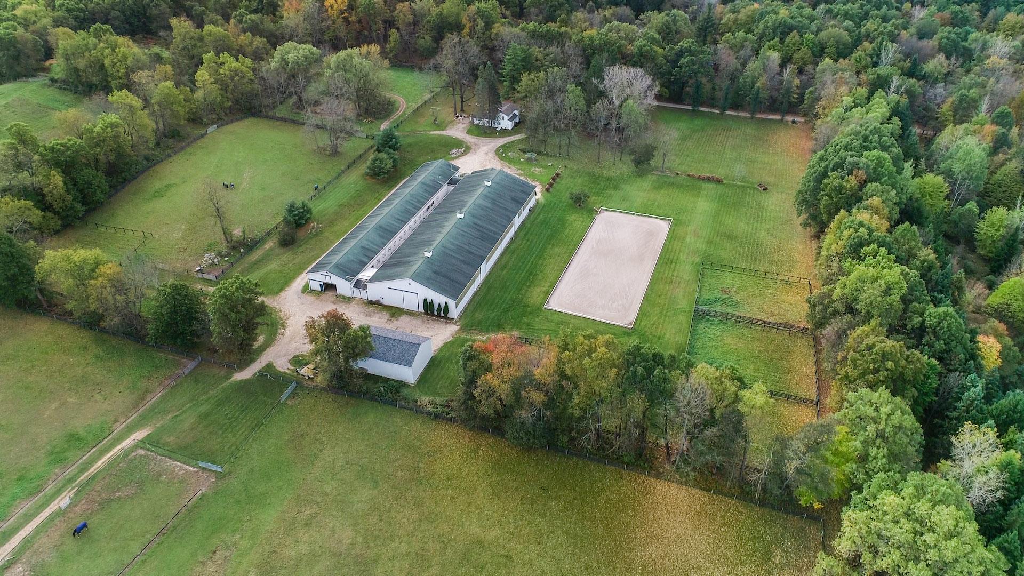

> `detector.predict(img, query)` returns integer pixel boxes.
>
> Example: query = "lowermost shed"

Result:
[353,324,433,384]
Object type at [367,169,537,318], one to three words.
barn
